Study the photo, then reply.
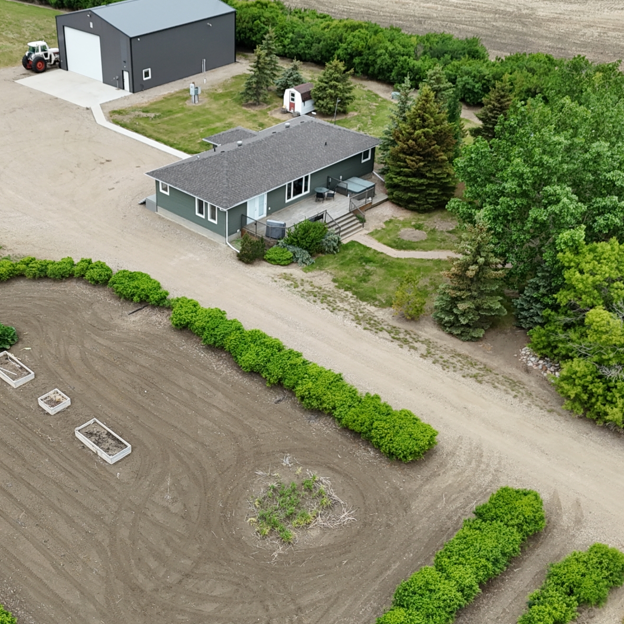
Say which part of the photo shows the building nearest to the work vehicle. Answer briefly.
top left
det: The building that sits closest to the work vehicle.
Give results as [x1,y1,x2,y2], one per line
[54,0,237,93]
